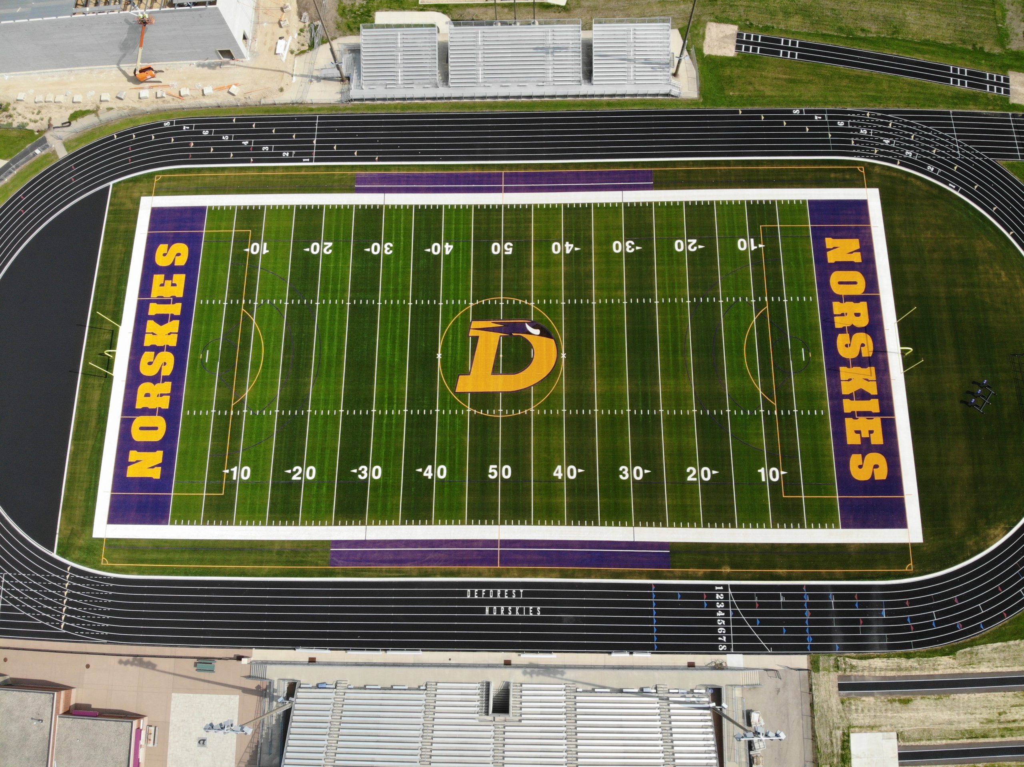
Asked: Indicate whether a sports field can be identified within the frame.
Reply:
Yes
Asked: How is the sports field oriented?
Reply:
from left to right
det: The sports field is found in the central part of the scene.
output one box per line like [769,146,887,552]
[169,200,839,528]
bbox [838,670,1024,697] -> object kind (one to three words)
runway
